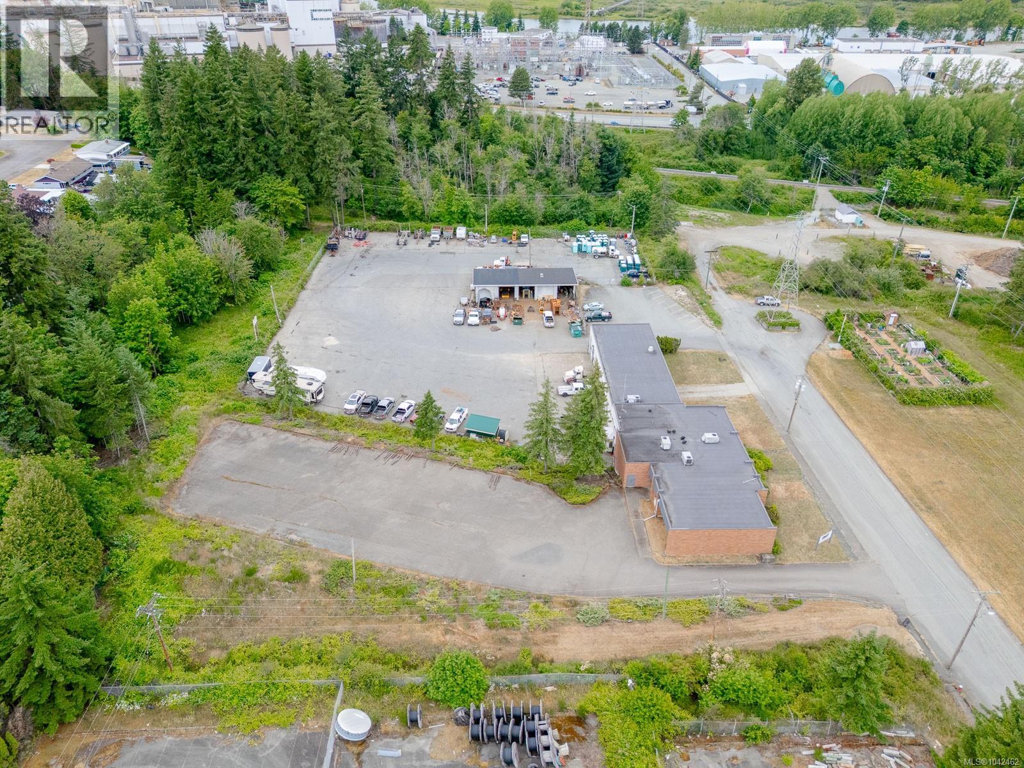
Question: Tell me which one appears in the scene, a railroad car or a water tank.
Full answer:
Looking from above, you can make out a water tank.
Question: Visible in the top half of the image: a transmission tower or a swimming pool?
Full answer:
Looking in the top half of the image, you will find a transmission tower.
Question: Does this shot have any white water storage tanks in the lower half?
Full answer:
Yes, looking in the lower half, one can make out a white water storage tank.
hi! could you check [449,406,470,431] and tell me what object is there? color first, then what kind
white truck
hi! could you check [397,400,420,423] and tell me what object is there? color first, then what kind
white truck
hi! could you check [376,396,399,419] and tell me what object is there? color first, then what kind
gray truck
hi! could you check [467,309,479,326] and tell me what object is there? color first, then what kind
white vehicle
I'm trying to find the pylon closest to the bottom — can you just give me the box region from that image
[761,208,818,326]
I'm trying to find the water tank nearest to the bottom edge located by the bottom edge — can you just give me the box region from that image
[334,714,371,752]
